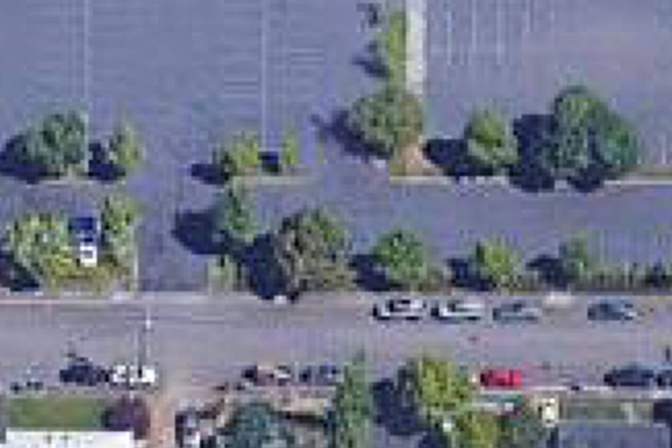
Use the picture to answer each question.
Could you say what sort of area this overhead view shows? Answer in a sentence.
This looks like a parking lot.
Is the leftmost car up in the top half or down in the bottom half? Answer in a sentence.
The bottom half of the photo is where the leftmost car is.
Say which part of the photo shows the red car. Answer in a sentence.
Look in the bottom right portion of the view to spot the red car.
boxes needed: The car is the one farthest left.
[59,360,111,385]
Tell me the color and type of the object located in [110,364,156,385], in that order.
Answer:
white car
